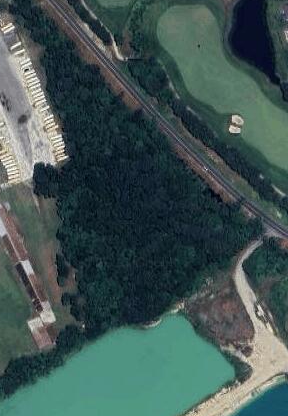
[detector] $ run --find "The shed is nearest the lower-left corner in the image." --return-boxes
[30,325,53,351]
